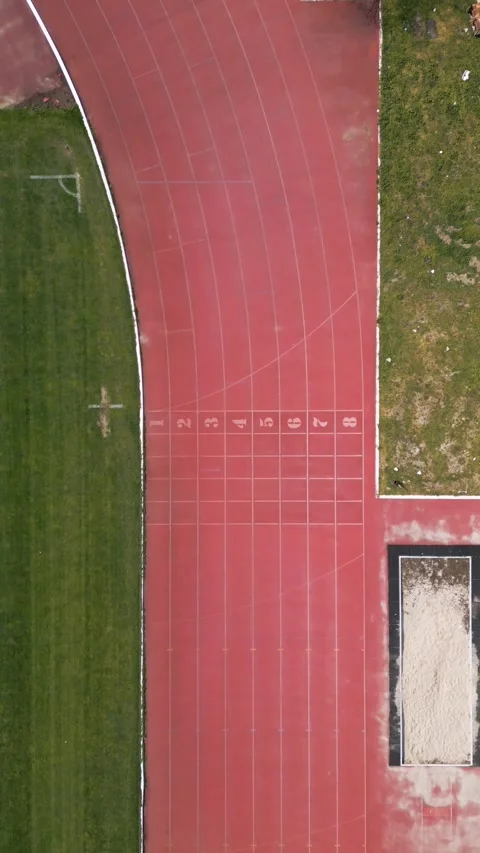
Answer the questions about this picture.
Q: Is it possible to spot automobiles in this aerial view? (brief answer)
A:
No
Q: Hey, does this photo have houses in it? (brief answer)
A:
No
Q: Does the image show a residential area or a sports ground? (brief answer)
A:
sports ground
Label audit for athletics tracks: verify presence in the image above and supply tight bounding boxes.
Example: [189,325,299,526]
[31,0,380,853]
